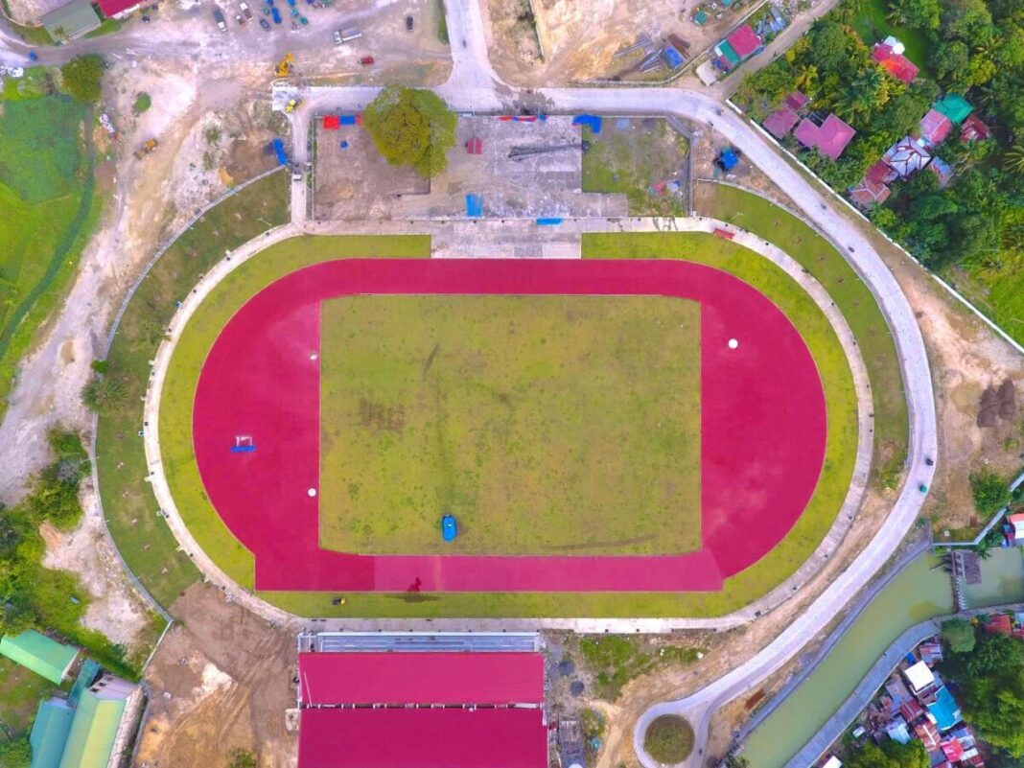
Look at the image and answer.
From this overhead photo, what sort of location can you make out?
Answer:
sports ground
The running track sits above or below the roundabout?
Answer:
above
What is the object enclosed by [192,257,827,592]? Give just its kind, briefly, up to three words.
running track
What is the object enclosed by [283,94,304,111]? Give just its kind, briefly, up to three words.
work vehicle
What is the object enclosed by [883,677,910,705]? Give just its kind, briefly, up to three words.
shed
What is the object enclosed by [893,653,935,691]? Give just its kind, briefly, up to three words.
house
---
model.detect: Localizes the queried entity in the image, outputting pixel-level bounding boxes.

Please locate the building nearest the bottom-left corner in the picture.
[23,690,82,768]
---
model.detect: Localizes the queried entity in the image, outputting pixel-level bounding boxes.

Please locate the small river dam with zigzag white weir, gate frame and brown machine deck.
[947,549,986,611]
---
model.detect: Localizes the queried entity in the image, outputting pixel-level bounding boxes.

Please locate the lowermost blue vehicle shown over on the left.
[273,140,285,162]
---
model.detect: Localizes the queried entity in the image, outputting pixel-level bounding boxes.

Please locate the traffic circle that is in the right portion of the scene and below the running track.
[643,712,697,767]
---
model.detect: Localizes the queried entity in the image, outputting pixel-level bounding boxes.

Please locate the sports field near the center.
[319,294,702,556]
